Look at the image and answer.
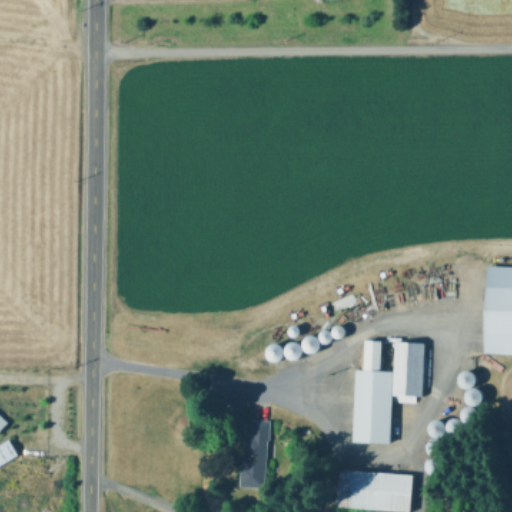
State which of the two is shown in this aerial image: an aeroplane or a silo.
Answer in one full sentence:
The image shows a silo.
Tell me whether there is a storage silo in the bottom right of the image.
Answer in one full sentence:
Yes, there is a storage silo in the bottom right of the image.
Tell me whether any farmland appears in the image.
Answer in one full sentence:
Yes, some farmland is visible.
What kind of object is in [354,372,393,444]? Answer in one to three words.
barn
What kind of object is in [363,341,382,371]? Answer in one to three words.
shed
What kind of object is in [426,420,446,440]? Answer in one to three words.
silo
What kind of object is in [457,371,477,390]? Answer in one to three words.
silo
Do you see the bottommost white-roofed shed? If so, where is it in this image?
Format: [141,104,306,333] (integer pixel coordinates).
[338,472,413,512]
